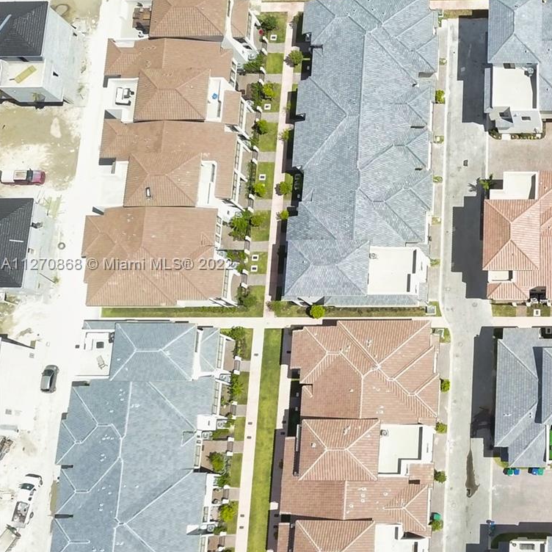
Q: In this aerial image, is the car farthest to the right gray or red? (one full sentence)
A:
The color of the car farthest to the right is gray.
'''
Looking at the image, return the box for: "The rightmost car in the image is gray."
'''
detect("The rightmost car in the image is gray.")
[39,363,63,397]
